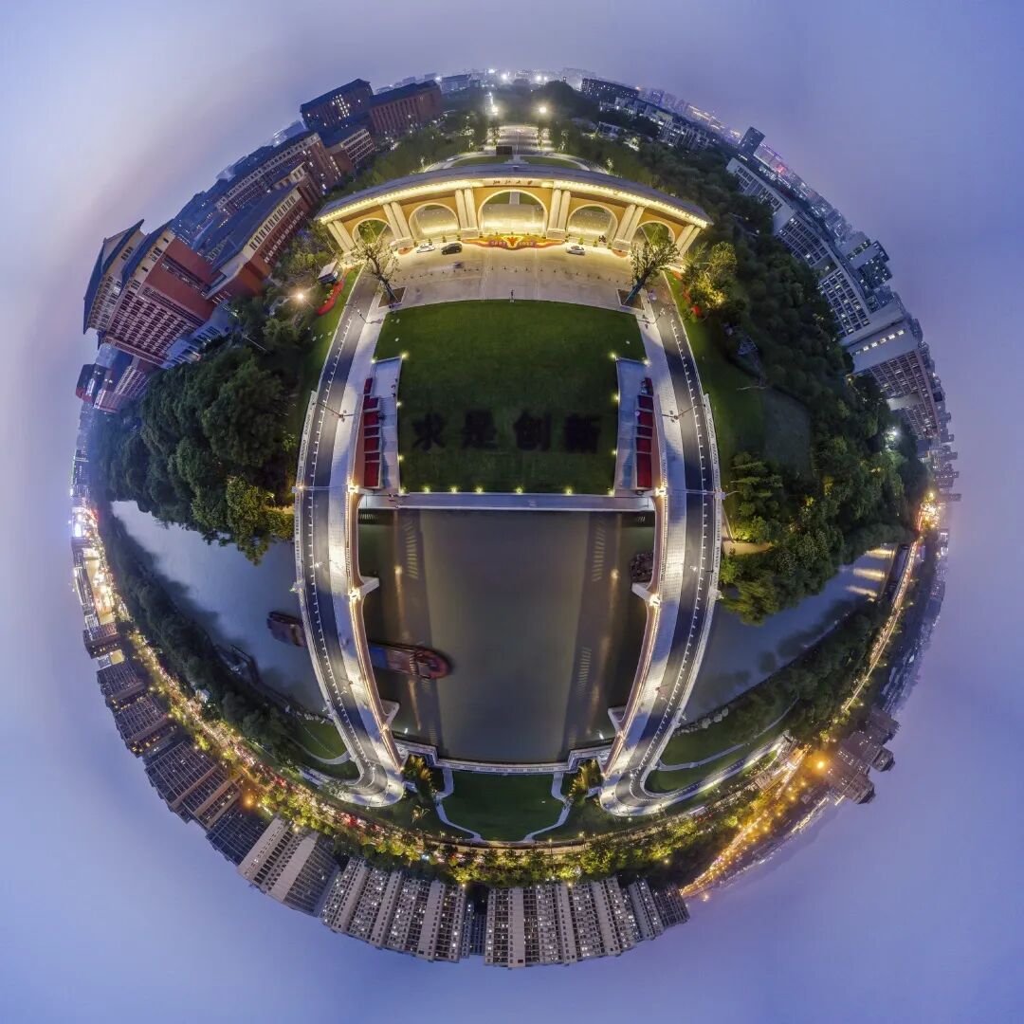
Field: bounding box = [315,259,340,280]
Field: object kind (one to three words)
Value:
building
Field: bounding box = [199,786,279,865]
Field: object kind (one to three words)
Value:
building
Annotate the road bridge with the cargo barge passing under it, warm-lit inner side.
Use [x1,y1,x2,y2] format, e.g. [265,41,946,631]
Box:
[207,206,428,814]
